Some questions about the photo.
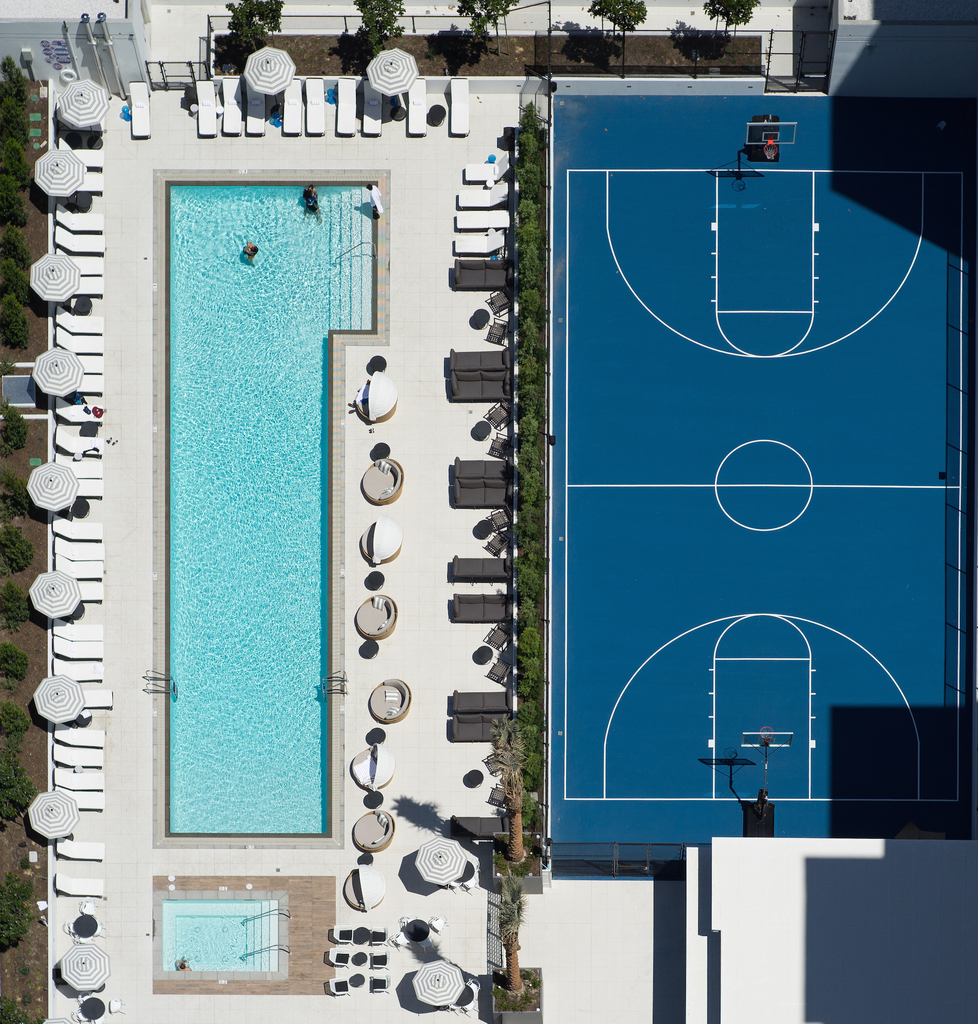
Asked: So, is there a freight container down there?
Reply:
No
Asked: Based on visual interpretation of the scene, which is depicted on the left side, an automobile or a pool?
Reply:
pool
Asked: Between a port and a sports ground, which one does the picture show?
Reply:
sports ground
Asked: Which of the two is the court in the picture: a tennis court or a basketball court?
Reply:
basketball court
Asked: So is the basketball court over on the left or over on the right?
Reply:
right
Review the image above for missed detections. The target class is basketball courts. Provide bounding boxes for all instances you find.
[553,95,972,880]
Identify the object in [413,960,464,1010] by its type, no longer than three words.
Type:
umbrella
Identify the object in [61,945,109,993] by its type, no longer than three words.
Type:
umbrella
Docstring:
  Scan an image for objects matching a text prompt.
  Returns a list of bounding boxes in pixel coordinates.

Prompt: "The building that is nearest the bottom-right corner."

[683,837,978,1024]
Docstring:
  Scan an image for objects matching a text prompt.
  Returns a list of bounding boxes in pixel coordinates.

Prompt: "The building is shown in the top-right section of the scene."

[828,0,978,96]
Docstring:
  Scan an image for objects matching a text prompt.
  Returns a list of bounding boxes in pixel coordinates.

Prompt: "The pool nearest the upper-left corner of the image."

[153,169,390,849]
